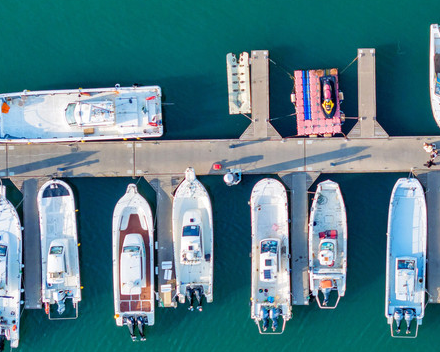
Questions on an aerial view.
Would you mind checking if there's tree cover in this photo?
No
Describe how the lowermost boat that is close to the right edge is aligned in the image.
from top to bottom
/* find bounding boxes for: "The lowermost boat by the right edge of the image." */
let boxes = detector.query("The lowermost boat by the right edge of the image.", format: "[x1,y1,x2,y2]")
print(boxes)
[385,178,428,338]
